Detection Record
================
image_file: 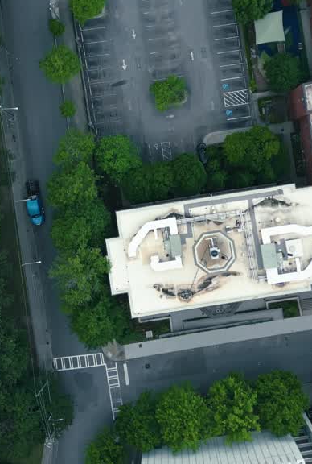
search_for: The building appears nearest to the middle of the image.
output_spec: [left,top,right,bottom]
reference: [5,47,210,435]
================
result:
[106,181,312,318]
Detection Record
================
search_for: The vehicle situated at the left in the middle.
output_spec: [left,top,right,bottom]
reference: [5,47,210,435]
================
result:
[26,179,44,222]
